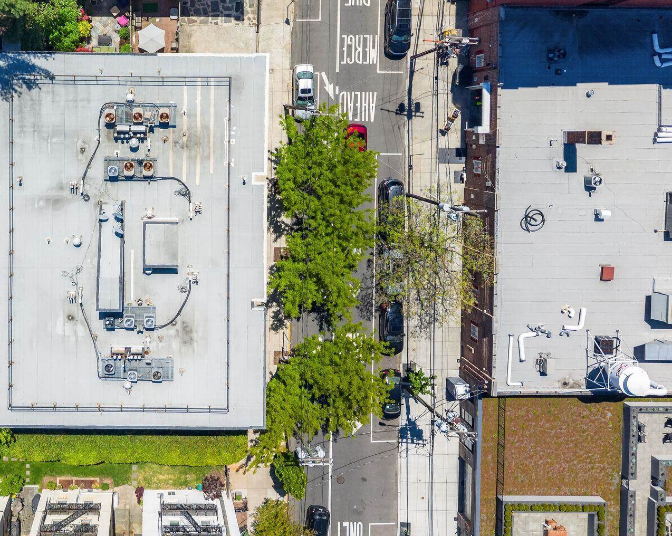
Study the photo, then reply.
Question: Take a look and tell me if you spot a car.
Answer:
Yes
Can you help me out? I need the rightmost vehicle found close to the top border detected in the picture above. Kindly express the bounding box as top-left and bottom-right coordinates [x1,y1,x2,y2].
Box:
[384,0,417,58]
